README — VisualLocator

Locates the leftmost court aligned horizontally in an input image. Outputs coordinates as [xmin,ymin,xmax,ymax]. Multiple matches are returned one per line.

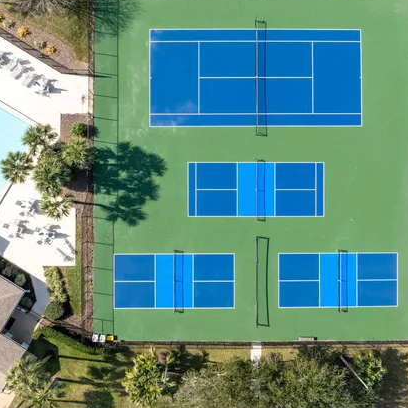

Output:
[114,254,234,308]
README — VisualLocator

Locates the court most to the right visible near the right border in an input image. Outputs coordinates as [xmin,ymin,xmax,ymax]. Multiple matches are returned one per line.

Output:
[279,253,397,307]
